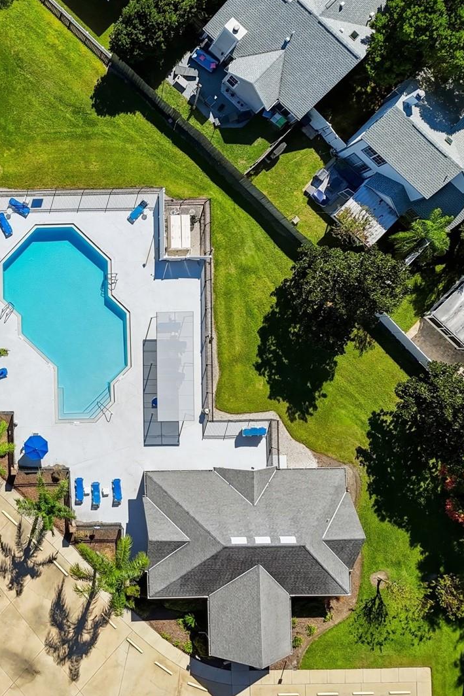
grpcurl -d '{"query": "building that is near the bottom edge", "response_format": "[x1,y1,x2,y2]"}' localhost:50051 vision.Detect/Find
[143,465,366,668]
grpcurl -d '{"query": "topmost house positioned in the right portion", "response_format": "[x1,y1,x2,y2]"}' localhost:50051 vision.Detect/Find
[197,0,406,124]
